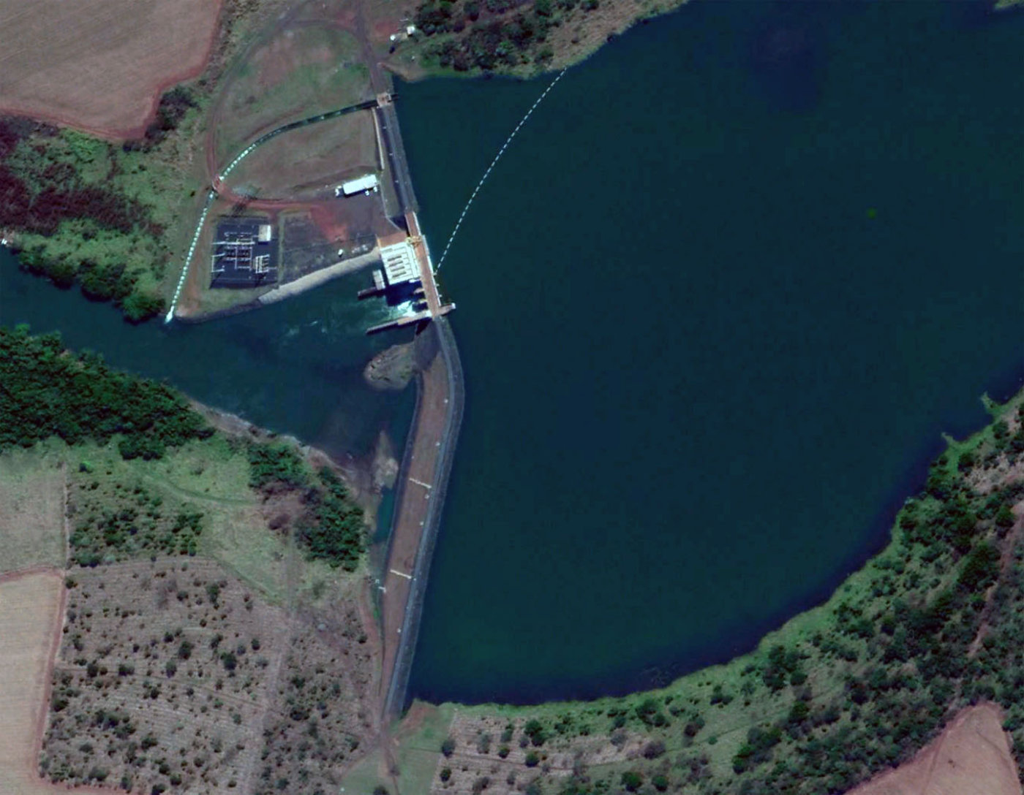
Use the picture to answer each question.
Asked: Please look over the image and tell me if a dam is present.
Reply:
Yes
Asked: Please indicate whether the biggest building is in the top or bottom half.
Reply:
top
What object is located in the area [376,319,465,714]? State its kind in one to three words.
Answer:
dam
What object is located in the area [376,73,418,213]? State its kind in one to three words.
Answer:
dam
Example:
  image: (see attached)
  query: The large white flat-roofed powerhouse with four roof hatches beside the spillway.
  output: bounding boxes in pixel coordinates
[376,233,423,284]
